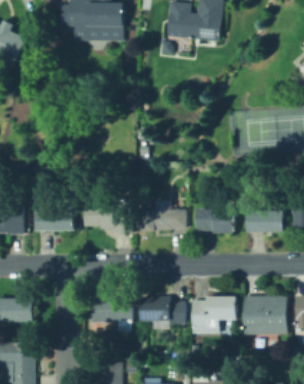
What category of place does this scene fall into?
residential area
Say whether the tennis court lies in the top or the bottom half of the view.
top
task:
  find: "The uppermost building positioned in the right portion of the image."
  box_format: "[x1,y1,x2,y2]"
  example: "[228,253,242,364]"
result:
[162,0,222,54]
